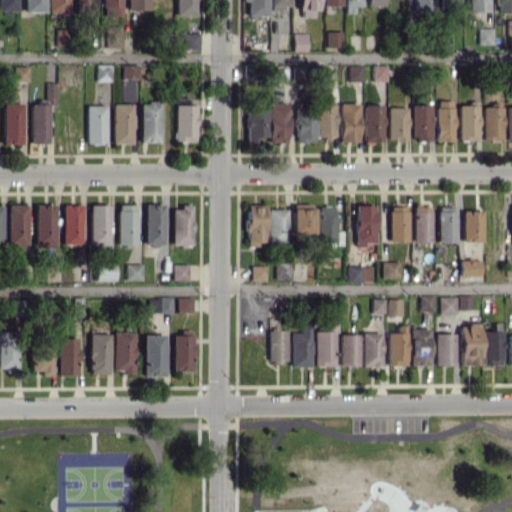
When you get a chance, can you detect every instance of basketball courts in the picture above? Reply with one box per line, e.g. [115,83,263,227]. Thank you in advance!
[58,453,132,505]
[58,505,132,512]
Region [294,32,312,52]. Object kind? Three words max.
building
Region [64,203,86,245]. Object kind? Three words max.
house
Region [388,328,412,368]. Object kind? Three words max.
house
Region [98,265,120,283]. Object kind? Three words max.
building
